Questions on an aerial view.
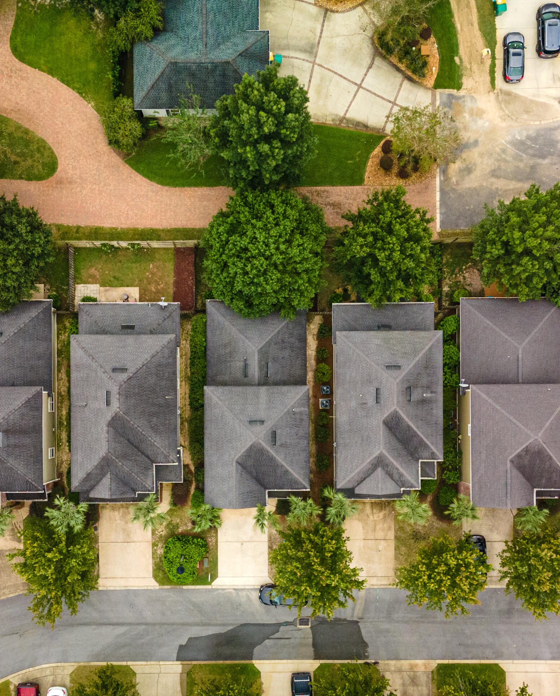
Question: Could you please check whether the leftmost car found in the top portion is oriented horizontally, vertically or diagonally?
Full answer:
I'd say the leftmost car found in the top portion is aligned vertically in the picture.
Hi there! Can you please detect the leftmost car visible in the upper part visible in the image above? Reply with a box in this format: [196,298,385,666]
[501,33,528,86]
